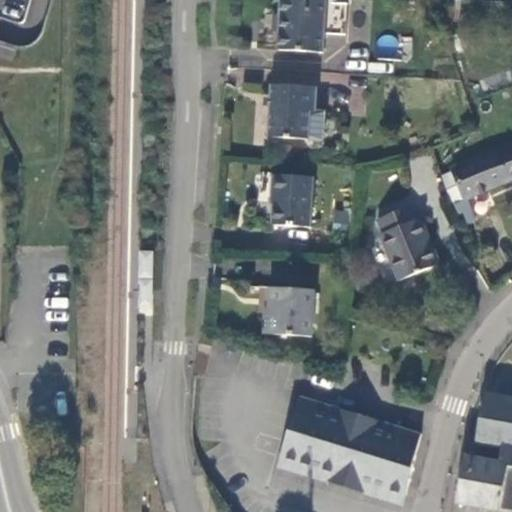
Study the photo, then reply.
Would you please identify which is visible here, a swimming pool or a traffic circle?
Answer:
swimming pool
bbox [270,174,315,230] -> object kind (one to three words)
house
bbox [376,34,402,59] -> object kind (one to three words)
swimming pool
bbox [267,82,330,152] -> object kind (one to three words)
house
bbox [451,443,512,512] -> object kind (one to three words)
building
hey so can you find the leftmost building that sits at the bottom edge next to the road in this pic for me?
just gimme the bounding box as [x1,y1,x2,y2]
[278,398,422,502]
